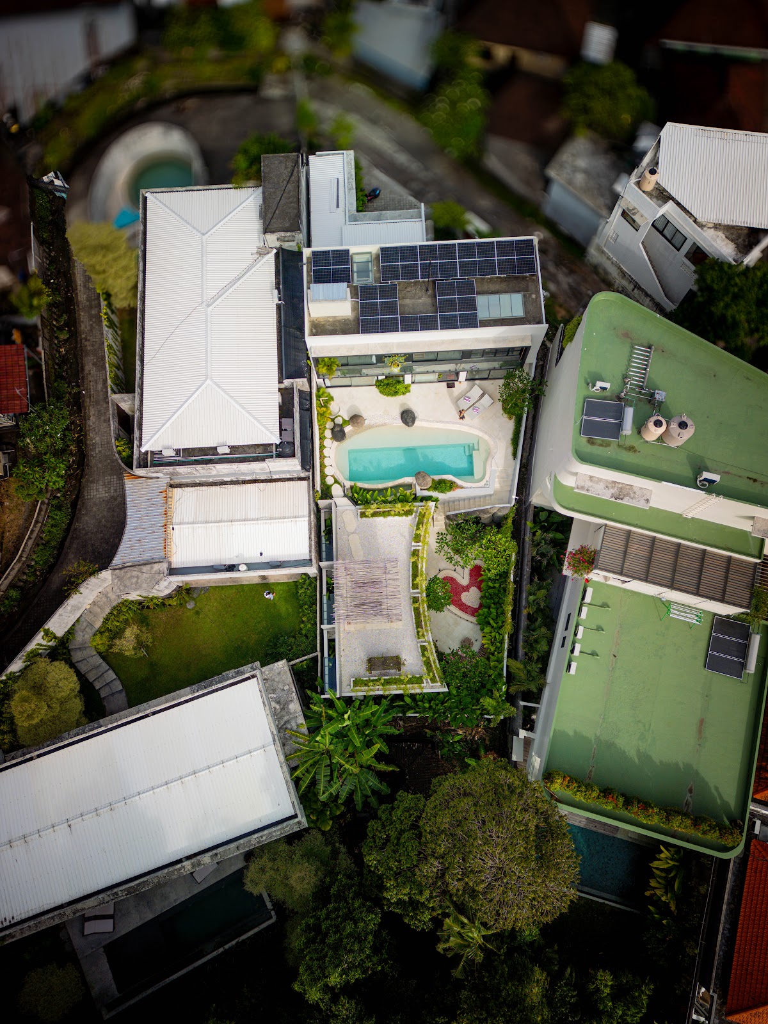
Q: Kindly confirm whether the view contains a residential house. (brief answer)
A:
Yes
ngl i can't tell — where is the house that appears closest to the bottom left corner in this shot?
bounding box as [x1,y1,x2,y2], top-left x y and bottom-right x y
[0,660,311,943]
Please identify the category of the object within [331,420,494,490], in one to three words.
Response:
swimming pool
